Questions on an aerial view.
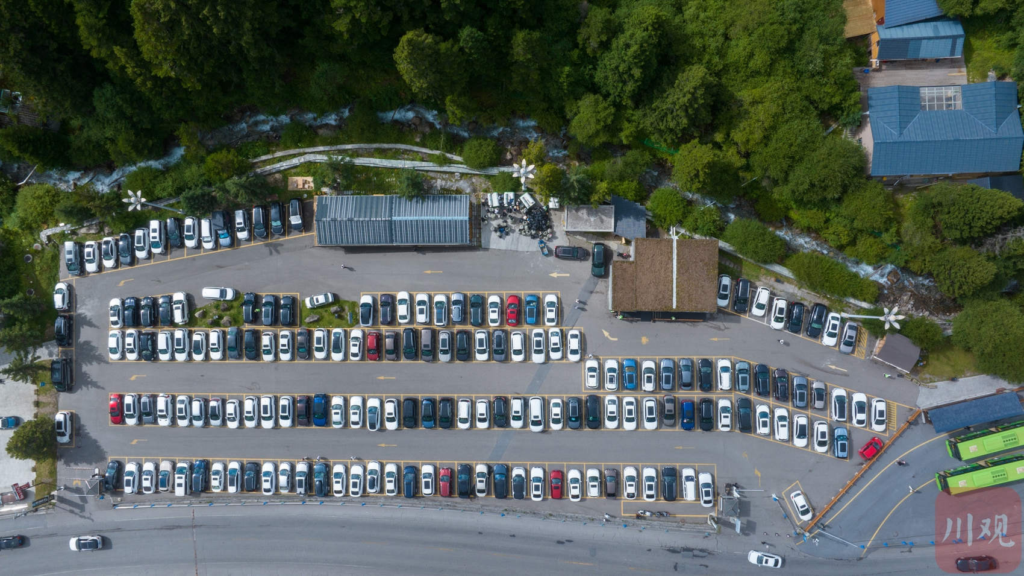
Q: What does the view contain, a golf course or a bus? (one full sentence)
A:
Looking from above, you can make out a bus.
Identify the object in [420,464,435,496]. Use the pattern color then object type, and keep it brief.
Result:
white car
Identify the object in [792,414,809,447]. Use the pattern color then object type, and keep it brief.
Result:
white car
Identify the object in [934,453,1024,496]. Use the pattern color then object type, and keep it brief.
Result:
green bus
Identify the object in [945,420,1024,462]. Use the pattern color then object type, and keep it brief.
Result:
green bus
